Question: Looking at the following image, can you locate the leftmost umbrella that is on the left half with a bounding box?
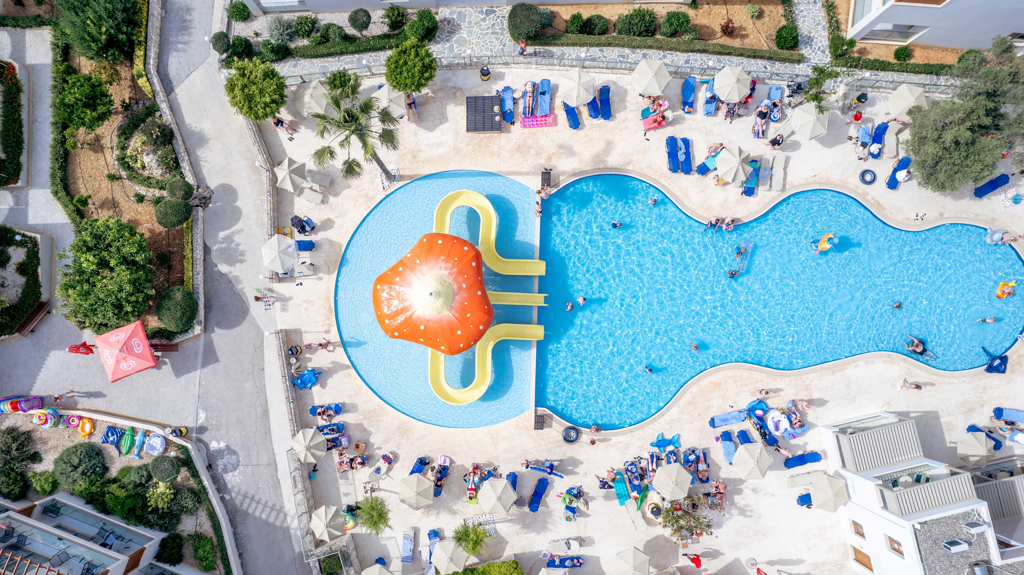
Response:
[65,338,100,356]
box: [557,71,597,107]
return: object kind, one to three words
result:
umbrella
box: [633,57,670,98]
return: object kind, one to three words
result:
umbrella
